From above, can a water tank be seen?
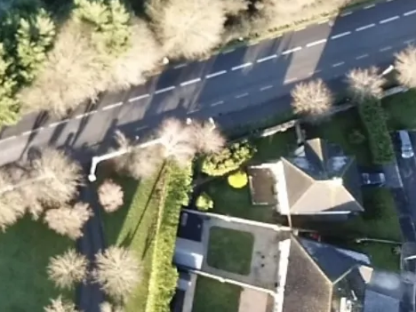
No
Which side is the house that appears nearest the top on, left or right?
right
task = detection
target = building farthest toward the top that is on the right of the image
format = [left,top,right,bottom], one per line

[271,141,364,218]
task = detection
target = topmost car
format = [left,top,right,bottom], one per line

[397,128,416,160]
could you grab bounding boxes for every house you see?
[275,238,376,312]
[271,141,364,218]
